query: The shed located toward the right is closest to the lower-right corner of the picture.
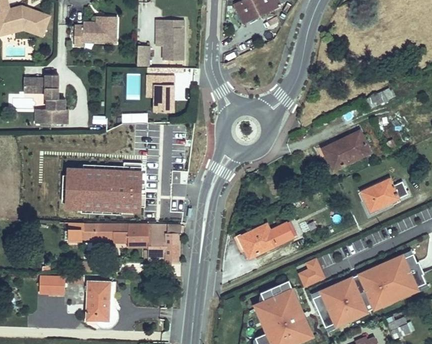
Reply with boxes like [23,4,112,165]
[388,316,415,339]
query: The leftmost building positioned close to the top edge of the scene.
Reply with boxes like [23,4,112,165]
[0,0,52,38]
